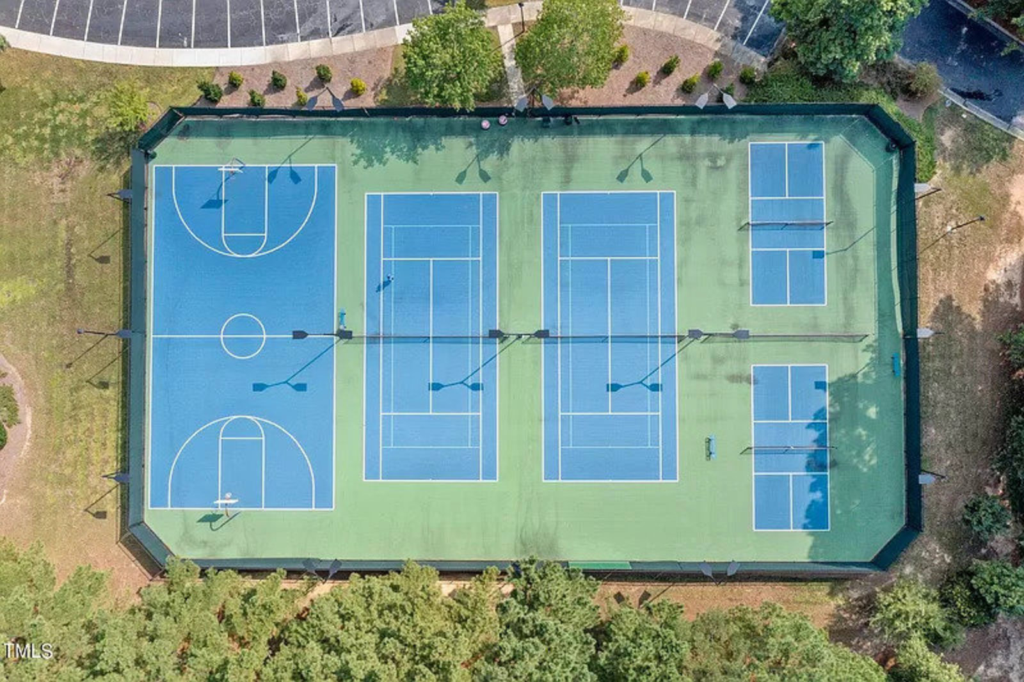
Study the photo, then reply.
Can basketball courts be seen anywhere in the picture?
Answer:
Yes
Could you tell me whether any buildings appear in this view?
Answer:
No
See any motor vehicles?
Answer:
No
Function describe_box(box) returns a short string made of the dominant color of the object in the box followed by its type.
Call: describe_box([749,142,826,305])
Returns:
blue sports court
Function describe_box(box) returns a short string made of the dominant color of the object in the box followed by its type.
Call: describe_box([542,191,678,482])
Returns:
blue tennis court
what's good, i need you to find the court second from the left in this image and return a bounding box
[364,192,498,481]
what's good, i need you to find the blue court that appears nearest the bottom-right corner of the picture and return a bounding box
[752,365,830,531]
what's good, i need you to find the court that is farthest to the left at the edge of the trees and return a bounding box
[149,164,336,510]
